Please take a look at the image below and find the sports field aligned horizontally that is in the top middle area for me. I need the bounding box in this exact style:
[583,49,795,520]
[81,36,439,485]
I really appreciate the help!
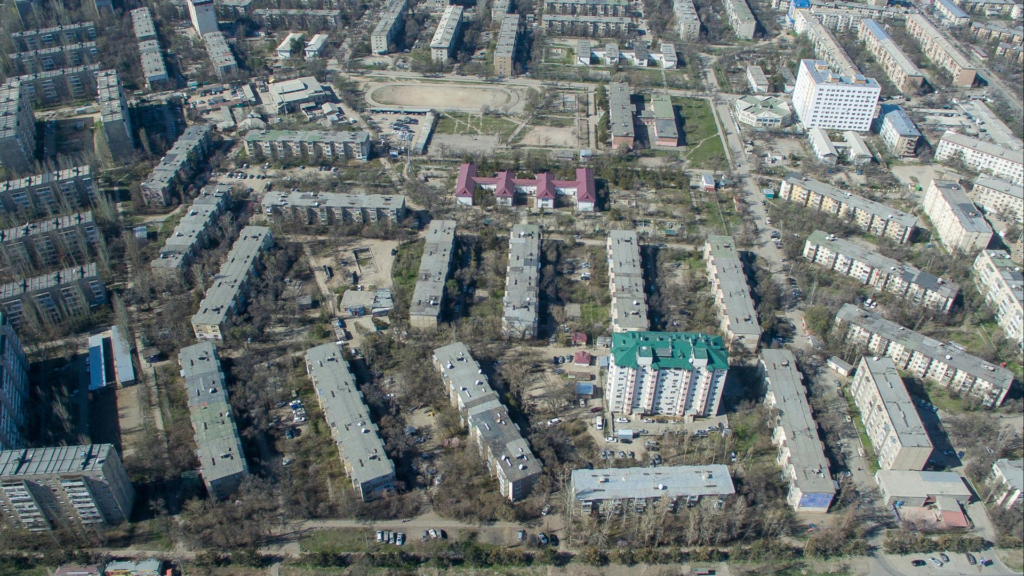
[372,85,506,105]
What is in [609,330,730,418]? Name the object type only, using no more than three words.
building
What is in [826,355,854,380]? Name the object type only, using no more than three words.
shed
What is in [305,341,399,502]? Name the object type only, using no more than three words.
building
